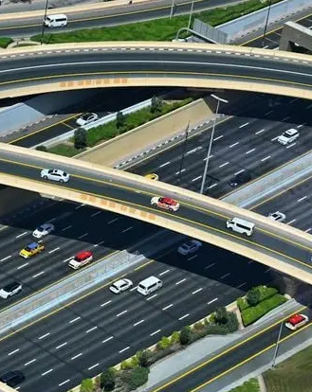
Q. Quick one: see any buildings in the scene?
No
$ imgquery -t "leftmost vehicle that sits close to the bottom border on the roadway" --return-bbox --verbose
[1,373,24,388]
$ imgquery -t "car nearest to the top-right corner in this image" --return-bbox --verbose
[279,129,298,143]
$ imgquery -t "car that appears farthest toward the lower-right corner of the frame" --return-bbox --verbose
[285,314,308,330]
